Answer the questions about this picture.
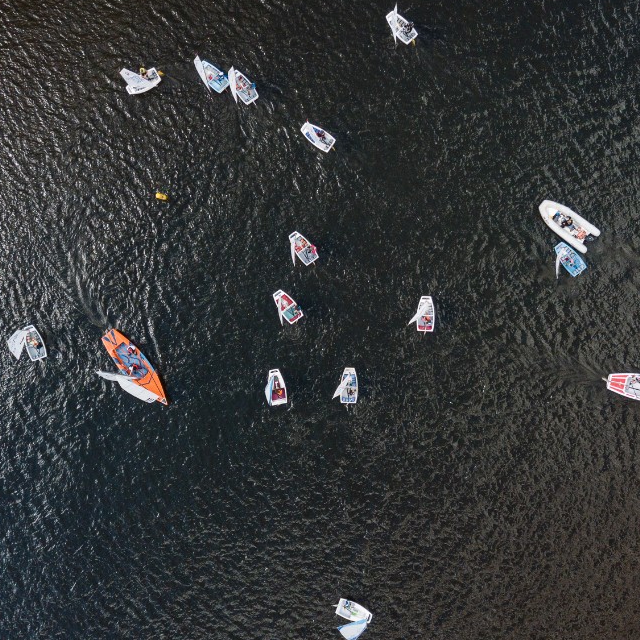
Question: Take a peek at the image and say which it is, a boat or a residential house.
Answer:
boat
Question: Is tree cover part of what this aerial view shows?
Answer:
No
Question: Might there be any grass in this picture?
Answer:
No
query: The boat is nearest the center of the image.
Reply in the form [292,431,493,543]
[273,289,304,324]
